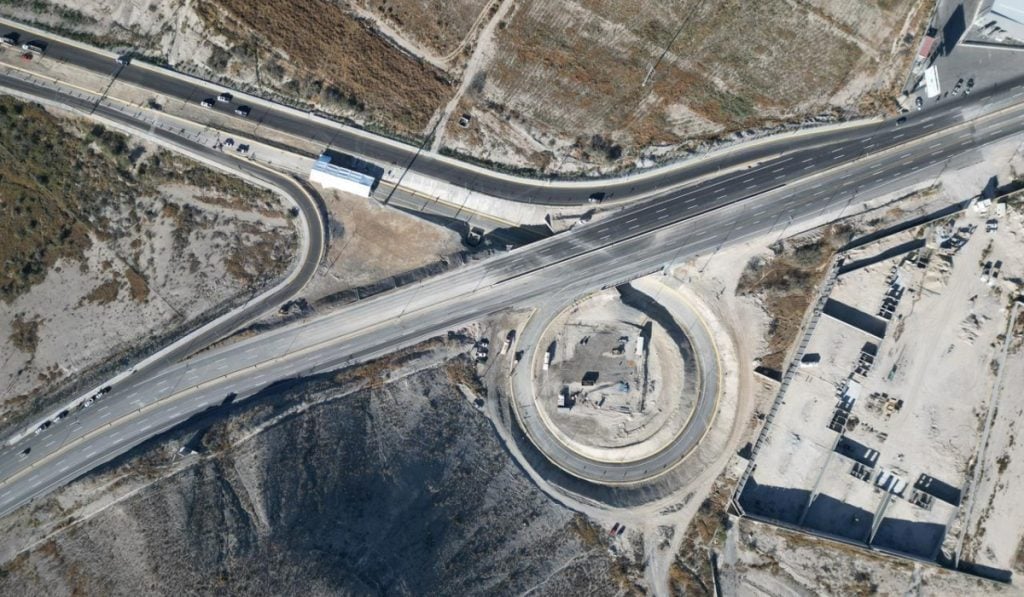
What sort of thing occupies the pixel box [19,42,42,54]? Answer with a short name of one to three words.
vehicle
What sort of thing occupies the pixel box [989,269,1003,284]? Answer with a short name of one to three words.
vehicle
